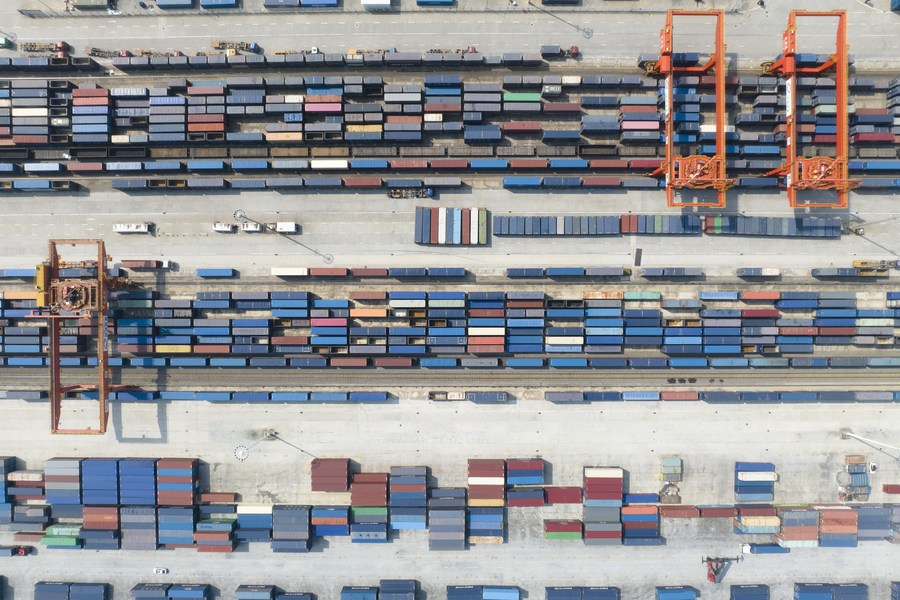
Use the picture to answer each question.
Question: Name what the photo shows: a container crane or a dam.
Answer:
container crane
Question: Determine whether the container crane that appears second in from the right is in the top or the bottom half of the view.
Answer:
top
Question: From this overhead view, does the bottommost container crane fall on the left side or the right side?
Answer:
left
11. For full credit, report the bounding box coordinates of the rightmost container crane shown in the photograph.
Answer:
[747,9,861,209]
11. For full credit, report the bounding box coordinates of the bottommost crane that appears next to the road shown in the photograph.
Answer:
[22,238,152,435]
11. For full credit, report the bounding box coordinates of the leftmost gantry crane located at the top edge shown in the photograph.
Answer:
[635,8,738,209]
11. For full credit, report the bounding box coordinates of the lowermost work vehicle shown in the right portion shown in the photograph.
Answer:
[704,562,748,589]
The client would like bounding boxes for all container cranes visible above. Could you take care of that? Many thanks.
[22,238,152,435]
[747,9,861,209]
[635,8,738,209]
